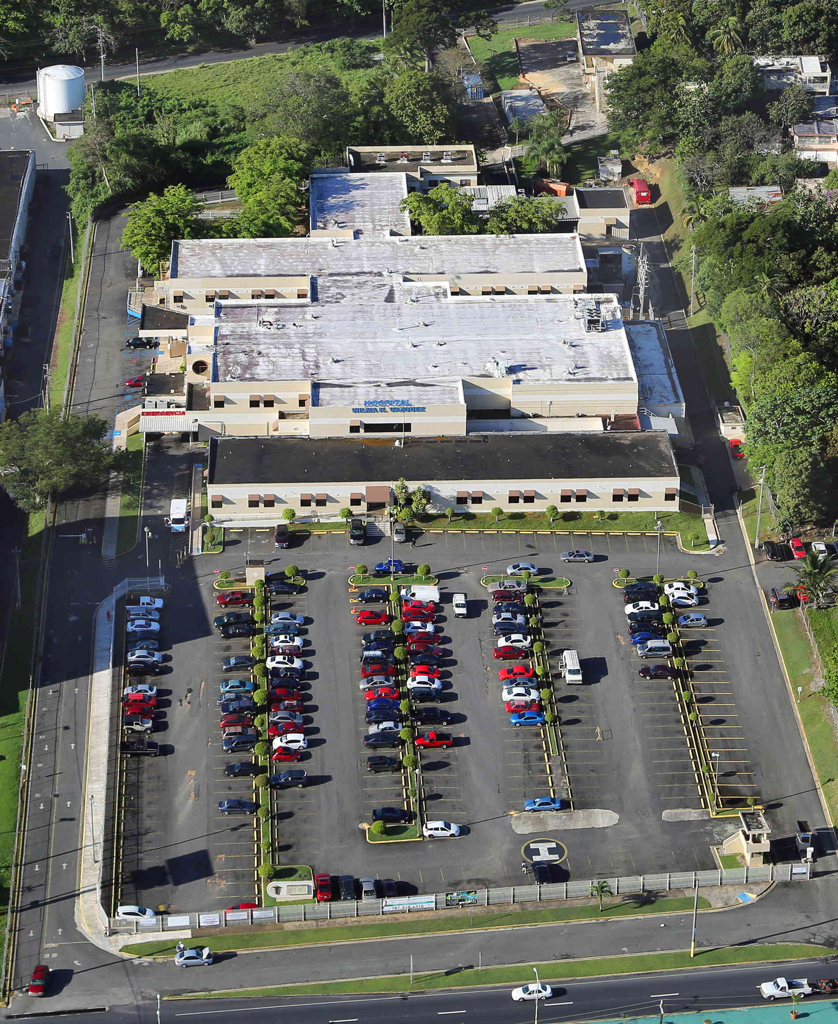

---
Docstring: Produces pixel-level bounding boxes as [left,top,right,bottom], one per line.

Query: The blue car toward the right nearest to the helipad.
[524,796,560,812]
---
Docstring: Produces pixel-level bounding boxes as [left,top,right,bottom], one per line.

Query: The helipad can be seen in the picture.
[525,839,564,861]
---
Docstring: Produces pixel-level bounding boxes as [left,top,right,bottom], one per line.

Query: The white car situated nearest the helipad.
[423,820,459,838]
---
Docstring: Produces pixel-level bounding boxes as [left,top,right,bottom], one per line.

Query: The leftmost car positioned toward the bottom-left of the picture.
[28,958,48,993]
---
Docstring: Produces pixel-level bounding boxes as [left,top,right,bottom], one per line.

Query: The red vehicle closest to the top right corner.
[632,175,652,202]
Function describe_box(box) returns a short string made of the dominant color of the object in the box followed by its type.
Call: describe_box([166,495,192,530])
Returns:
white vehicle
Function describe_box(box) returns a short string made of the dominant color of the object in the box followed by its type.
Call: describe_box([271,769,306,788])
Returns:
black car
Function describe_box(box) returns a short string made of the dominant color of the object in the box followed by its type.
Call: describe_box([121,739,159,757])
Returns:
black vehicle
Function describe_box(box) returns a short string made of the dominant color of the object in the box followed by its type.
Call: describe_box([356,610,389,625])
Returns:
red car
